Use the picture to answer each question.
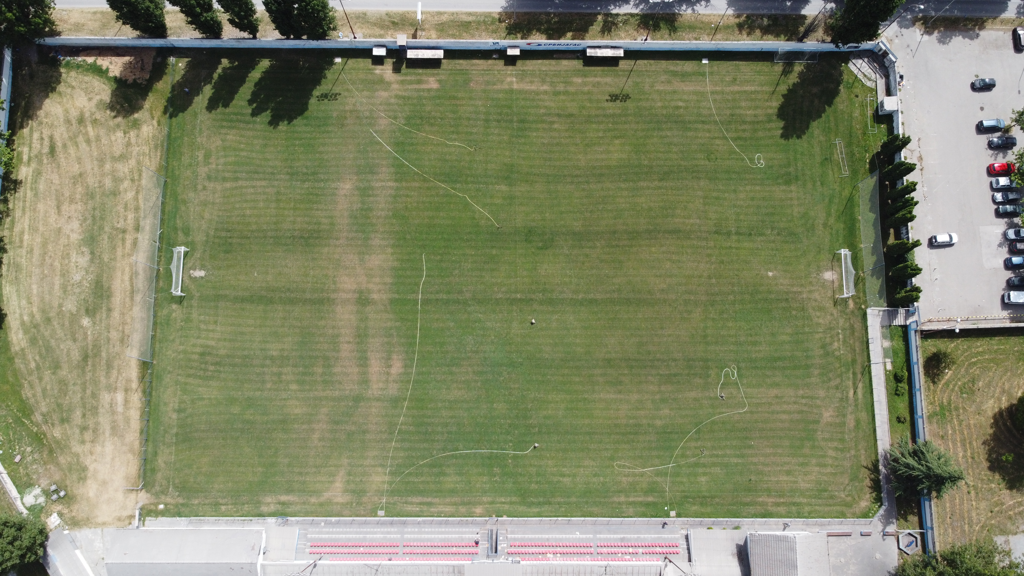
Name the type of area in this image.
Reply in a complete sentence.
The picture captures a sports ground.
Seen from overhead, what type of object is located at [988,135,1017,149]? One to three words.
car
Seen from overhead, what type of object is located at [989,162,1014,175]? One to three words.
vehicle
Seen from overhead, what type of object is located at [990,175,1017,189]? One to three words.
car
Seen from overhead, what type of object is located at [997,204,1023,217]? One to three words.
vehicle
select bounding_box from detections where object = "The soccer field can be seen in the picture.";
[137,49,891,518]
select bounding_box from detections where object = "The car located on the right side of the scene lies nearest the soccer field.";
[929,232,958,246]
